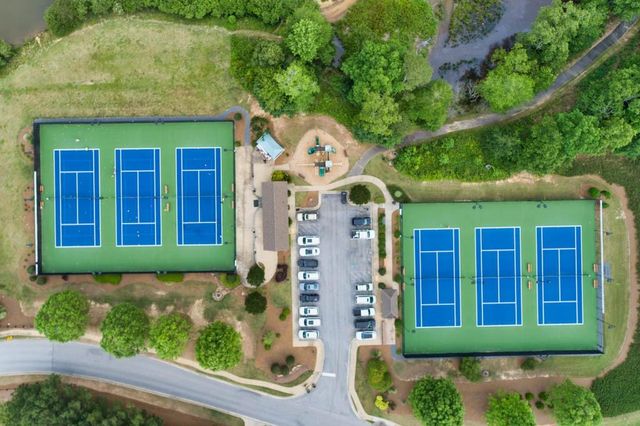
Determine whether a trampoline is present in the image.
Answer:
No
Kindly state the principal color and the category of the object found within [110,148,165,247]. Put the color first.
blue tennis court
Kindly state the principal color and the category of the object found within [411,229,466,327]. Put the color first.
blue tennis court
